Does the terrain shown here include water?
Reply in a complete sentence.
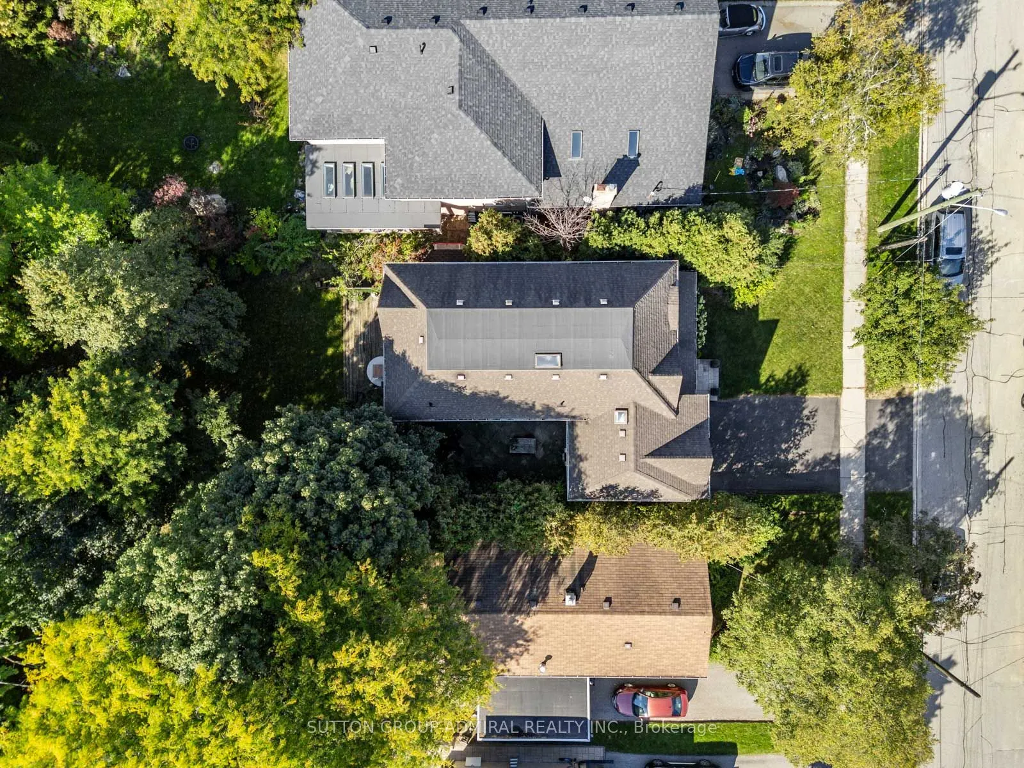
No, no water is visible.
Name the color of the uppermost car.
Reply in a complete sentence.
In this view, the uppermost car is black.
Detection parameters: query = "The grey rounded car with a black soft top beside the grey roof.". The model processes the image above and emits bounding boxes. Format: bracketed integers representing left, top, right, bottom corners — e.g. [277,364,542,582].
[718,5,763,41]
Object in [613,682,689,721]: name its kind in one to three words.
car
